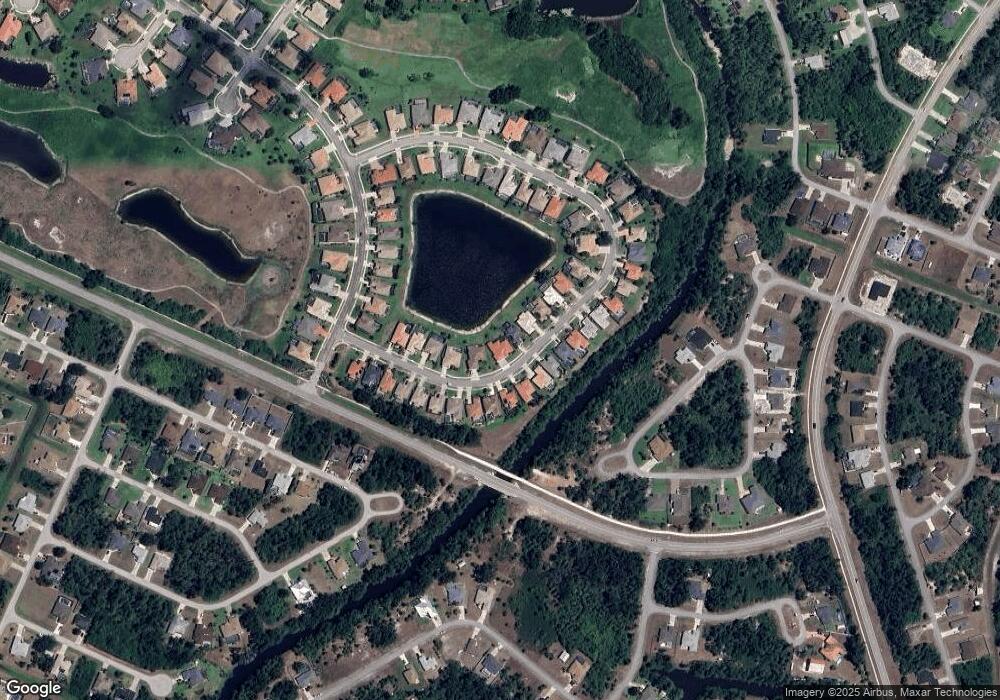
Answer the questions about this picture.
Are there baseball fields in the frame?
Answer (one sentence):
No, there appears to be no baseball field in this shot.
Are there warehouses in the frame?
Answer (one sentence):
No, I can't see a single warehouse in this photo.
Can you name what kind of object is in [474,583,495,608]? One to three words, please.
house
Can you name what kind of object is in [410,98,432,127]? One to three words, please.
house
